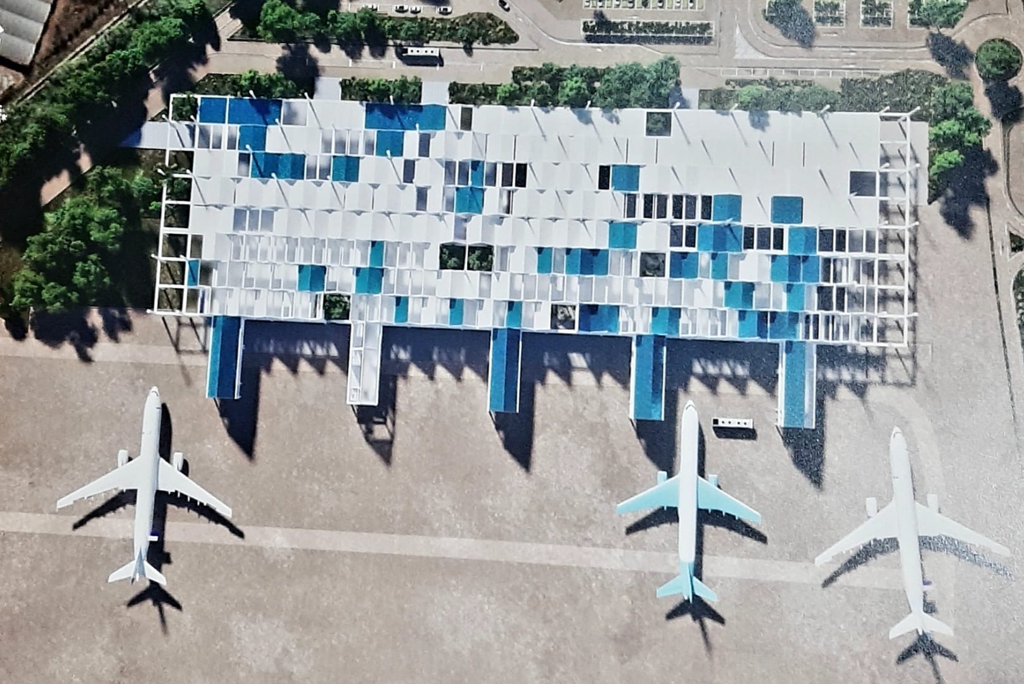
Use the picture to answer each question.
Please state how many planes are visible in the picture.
3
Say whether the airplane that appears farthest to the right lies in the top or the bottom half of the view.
bottom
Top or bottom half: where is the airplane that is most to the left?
bottom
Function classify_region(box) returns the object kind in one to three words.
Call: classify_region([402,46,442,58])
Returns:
vehicle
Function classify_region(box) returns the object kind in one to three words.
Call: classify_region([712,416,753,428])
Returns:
vehicle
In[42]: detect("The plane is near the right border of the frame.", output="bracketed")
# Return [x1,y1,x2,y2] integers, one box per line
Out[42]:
[814,427,1012,640]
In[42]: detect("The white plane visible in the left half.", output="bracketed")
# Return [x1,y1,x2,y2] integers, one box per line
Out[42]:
[53,387,229,587]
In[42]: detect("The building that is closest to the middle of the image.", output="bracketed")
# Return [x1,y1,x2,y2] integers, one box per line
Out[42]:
[145,91,920,345]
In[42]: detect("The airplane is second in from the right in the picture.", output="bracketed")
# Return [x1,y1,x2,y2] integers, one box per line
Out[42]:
[617,401,765,605]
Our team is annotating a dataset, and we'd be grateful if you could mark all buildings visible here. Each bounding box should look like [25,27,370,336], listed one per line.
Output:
[145,91,920,345]
[0,0,62,70]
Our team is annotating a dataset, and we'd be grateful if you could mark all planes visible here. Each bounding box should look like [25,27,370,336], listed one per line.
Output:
[53,387,229,587]
[814,427,1012,640]
[617,401,765,605]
